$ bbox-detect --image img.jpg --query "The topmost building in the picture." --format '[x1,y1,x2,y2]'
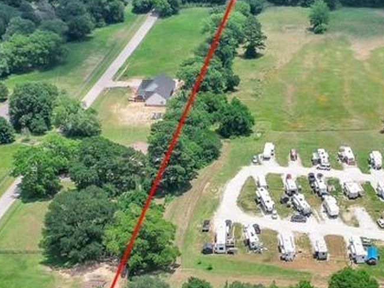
[133,78,180,107]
